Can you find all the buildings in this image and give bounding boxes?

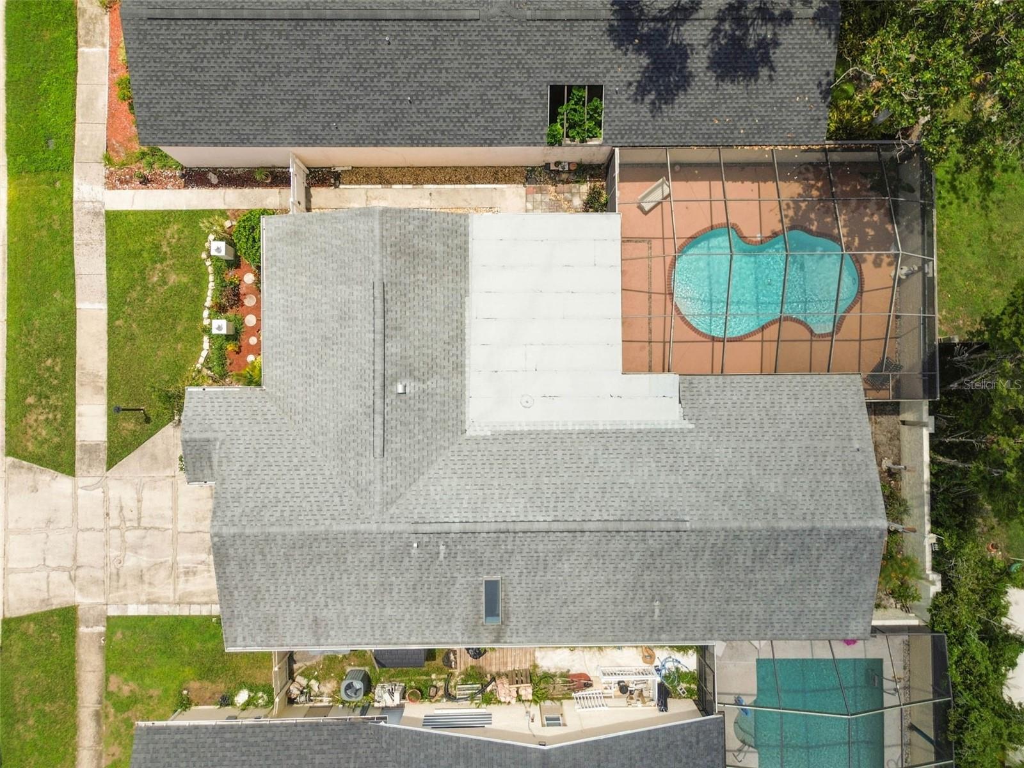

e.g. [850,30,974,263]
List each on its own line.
[130,703,726,768]
[121,0,839,168]
[181,206,888,654]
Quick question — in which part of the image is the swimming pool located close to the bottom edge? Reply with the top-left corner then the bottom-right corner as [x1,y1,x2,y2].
[734,659,884,768]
